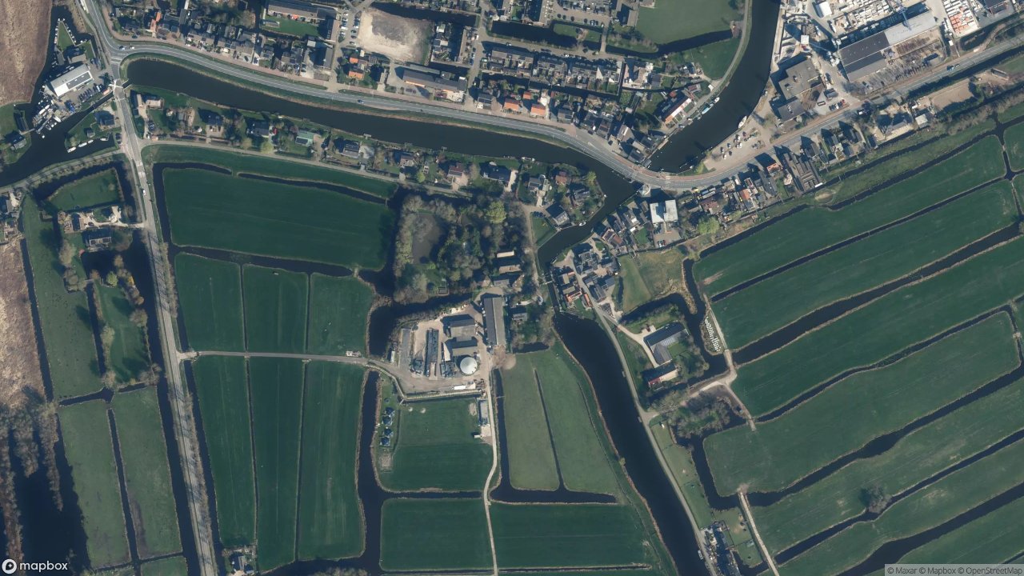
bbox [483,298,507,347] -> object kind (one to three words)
barn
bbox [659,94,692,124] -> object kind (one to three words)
house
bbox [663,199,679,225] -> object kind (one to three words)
building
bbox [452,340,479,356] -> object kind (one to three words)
barn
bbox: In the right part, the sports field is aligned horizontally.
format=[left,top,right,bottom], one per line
[638,0,746,43]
